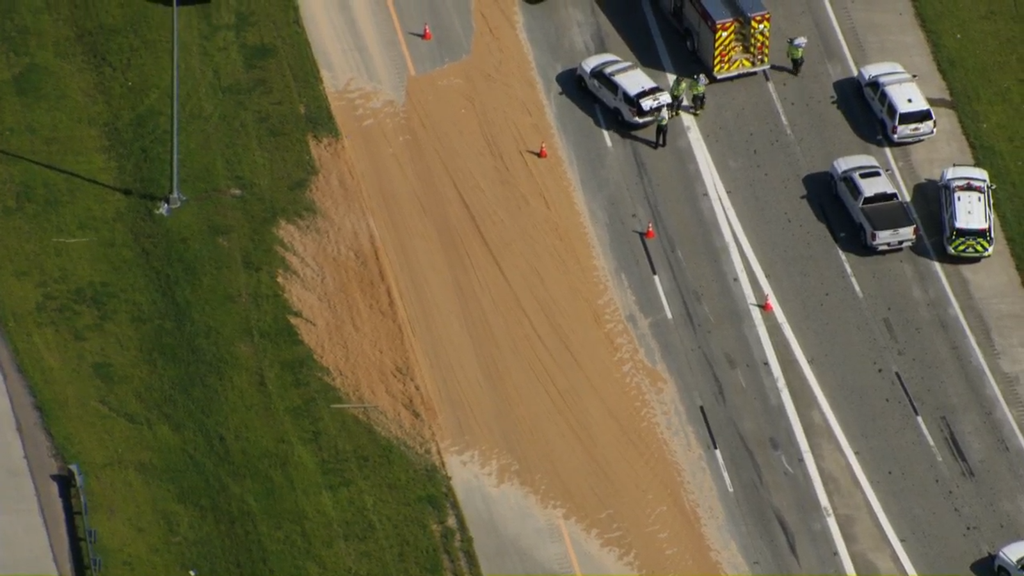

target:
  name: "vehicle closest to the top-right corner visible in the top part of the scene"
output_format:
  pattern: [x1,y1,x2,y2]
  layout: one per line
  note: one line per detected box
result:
[860,63,936,145]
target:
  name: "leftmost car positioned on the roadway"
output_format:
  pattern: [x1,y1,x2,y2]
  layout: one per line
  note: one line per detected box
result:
[577,49,675,126]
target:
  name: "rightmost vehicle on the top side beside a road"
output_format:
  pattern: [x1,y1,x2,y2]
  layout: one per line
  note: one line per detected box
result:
[939,166,999,257]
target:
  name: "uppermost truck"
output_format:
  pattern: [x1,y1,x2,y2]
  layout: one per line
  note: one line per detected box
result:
[664,0,769,78]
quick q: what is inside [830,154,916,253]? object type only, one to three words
truck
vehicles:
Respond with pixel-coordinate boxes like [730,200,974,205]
[860,63,936,145]
[996,543,1024,576]
[830,154,916,253]
[577,49,675,126]
[664,0,769,78]
[939,166,999,257]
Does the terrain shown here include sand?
Yes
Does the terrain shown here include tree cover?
No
